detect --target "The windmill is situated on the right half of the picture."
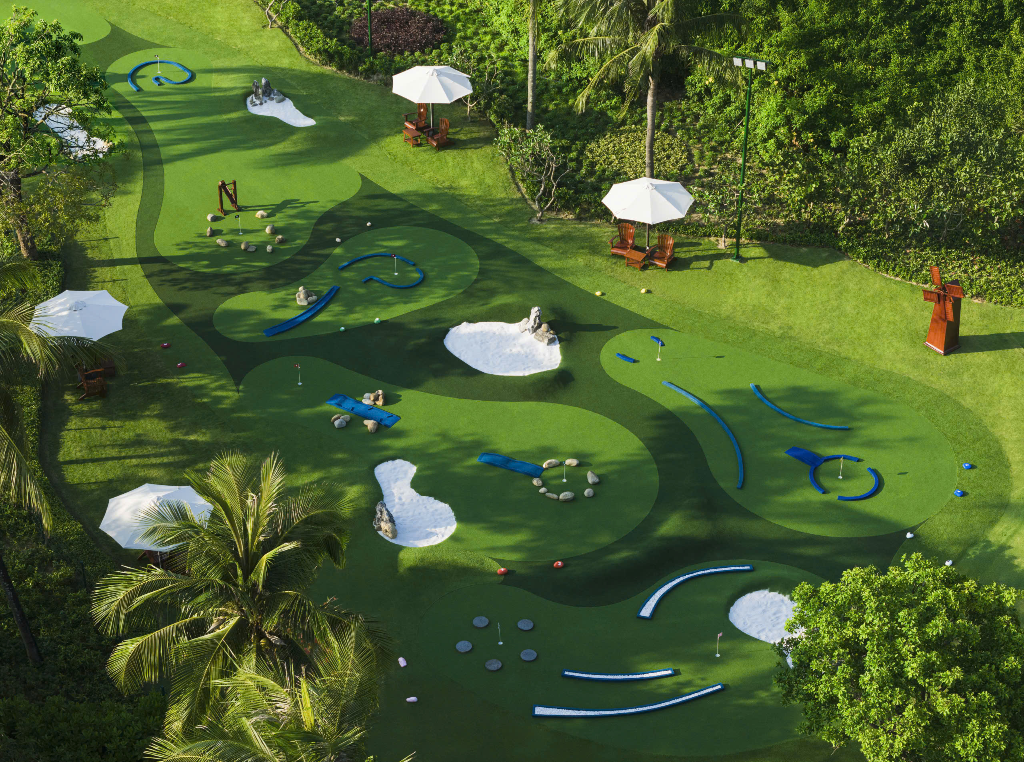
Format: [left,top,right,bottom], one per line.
[914,266,971,355]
